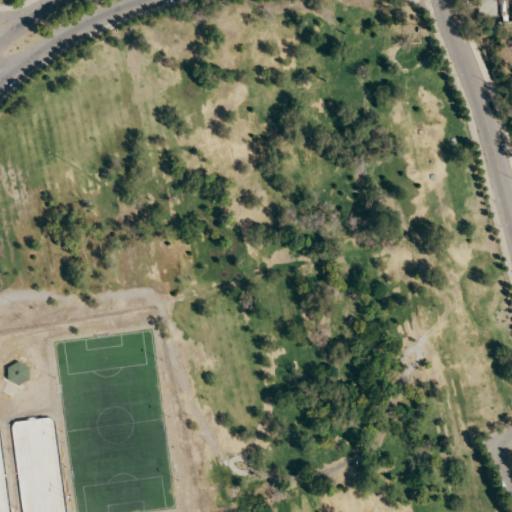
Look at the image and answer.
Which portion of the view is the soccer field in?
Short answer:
bottom left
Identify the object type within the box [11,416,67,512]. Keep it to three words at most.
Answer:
building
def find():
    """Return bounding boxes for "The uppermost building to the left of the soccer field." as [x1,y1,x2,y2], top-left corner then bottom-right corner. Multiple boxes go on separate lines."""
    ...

[8,360,30,385]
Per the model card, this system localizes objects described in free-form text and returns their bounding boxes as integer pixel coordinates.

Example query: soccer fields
[54,330,176,512]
